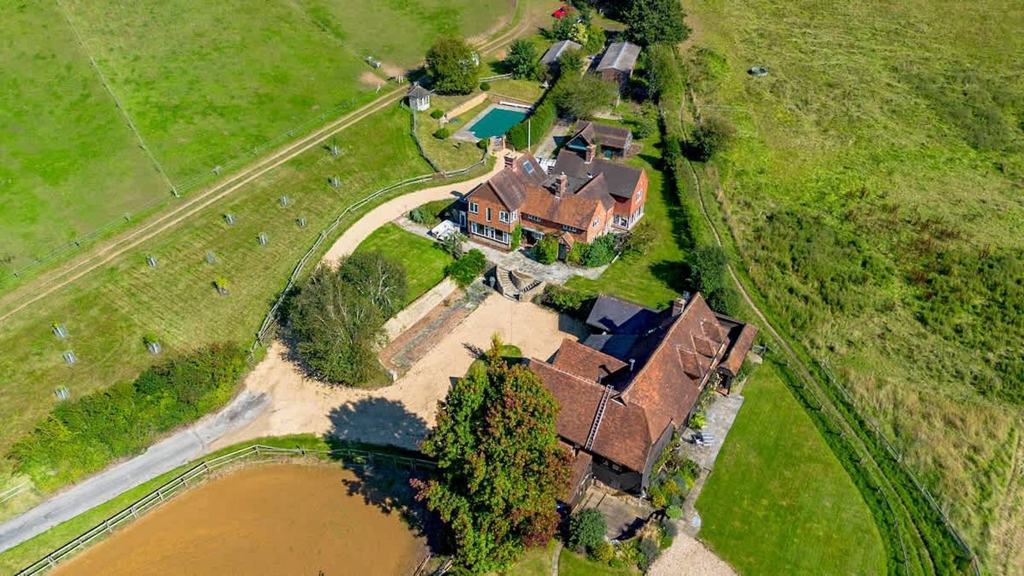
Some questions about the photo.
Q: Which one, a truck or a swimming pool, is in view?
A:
swimming pool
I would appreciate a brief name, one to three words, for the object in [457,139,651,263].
house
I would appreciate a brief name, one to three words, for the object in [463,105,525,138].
swimming pool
